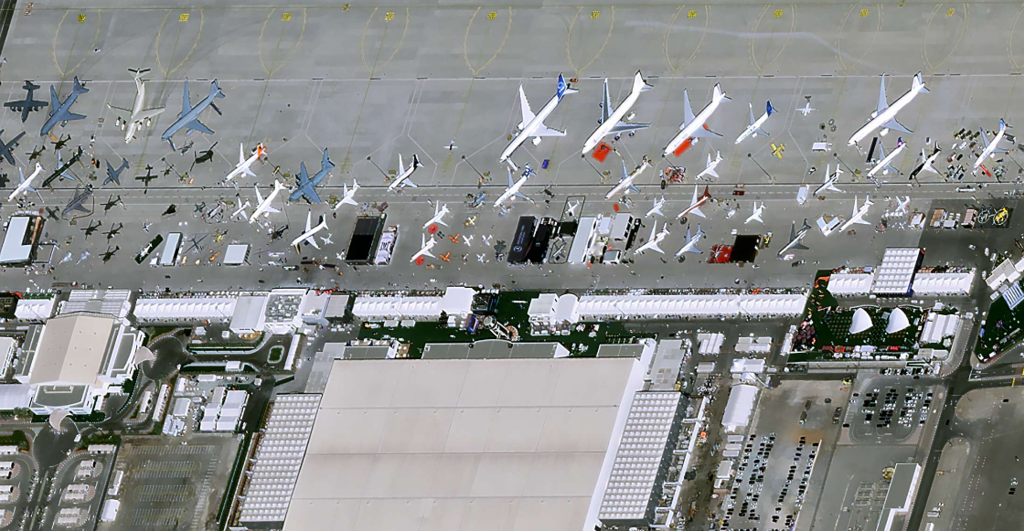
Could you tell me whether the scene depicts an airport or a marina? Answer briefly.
airport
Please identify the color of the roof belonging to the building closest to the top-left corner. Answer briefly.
white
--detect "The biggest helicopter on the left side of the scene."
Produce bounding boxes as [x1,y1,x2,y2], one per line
[192,141,217,168]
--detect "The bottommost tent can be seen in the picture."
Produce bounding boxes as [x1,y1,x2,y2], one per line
[100,499,123,523]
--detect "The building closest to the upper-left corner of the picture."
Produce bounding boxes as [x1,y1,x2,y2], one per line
[0,217,35,266]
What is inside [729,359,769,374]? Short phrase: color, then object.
white tent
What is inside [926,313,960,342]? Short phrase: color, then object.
white tent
